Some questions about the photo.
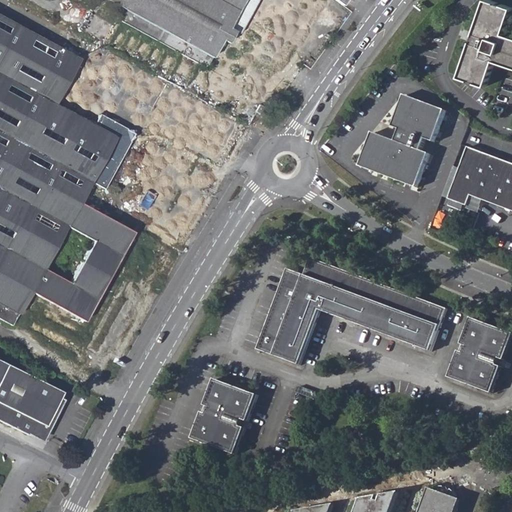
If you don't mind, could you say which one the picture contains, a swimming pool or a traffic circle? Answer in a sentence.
There is a traffic circle in the scene.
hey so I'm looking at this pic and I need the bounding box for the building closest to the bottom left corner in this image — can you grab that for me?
[0,358,72,442]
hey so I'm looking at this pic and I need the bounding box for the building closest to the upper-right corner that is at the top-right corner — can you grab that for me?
[454,2,512,90]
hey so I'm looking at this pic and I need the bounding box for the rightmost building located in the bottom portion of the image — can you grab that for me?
[446,316,512,392]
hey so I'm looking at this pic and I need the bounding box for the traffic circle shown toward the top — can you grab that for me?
[255,134,318,196]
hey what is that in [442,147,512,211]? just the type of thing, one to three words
building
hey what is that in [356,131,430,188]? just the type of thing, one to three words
building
